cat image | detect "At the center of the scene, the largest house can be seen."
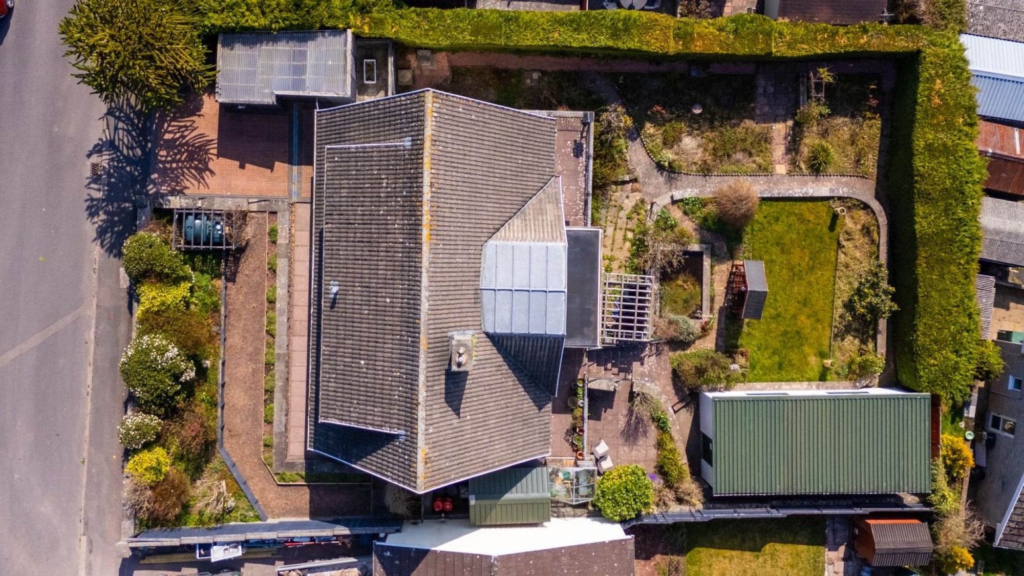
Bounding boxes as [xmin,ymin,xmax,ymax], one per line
[306,87,604,495]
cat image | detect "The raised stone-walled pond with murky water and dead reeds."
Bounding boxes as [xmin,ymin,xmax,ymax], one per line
[653,244,711,350]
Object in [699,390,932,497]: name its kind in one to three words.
building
